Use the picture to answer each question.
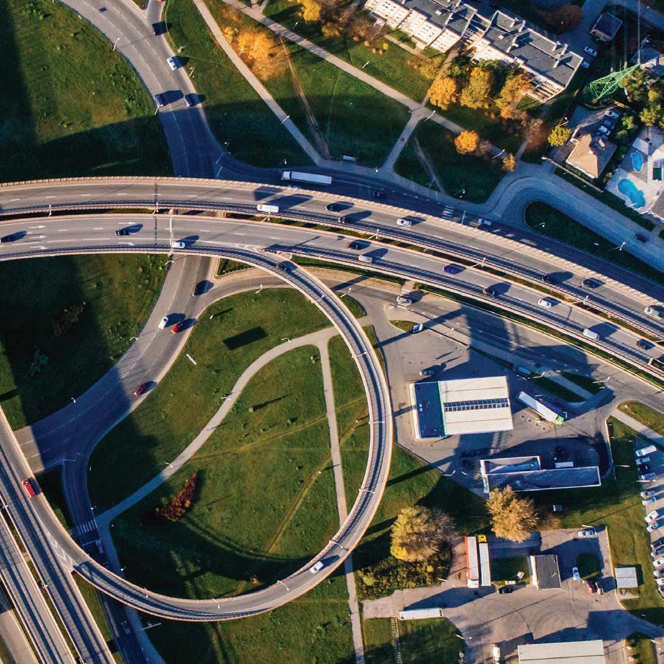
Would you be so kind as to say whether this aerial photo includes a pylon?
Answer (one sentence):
Yes, a pylon is visible in the scene.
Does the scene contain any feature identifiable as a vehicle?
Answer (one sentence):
Yes, looking at the shot, I can spot a vehicle.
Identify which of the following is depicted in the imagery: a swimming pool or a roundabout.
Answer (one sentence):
Of the two, only a swimming pool appears.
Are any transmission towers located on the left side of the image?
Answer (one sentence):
No, I can find no transmission tower on the left side of the image.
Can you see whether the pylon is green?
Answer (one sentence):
Yes, the pylon is green.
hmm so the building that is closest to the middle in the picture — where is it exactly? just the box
[409,381,446,438]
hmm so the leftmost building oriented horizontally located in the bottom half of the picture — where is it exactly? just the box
[475,456,542,474]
